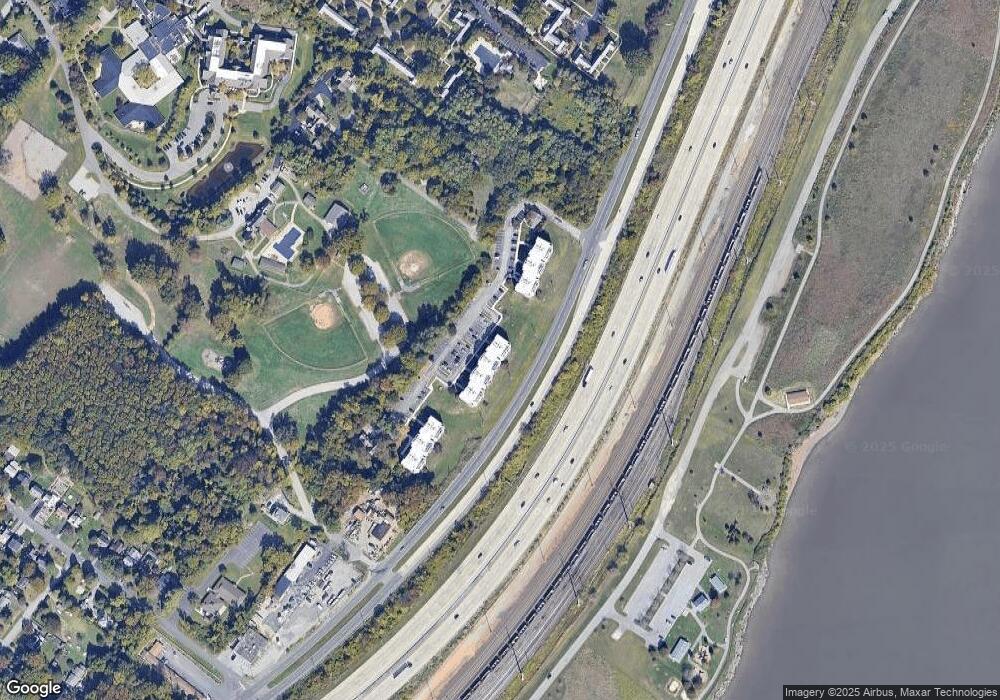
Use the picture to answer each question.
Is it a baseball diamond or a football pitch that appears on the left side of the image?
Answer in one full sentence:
The feature located on the left side of the image is a baseball diamond.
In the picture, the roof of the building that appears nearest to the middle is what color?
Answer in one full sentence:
The roof over the building that appears nearest to the middle appears white.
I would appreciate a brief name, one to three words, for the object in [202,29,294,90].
house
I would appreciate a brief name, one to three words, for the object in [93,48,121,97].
building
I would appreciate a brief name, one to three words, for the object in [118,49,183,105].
building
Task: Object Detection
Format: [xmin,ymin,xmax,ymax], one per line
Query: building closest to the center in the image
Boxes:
[460,336,511,407]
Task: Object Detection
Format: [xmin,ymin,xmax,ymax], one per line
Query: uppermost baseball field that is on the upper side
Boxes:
[373,210,475,292]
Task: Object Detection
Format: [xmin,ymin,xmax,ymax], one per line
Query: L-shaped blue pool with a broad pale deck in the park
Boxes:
[254,223,305,263]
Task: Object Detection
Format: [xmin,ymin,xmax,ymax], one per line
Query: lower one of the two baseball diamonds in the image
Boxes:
[263,288,367,371]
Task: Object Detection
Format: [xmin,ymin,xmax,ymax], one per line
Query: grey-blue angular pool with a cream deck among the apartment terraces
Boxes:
[466,36,513,78]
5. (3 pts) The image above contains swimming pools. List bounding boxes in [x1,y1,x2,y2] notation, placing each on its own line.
[254,223,305,263]
[466,36,513,78]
